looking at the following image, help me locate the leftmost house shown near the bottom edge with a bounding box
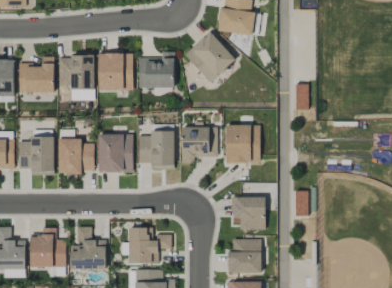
[0,228,26,278]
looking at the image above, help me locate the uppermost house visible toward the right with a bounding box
[220,0,268,36]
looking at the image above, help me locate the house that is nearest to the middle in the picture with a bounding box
[182,120,220,164]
